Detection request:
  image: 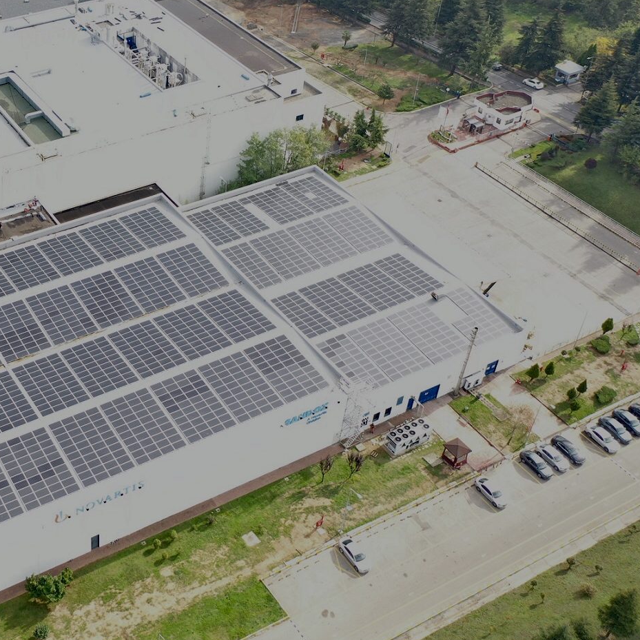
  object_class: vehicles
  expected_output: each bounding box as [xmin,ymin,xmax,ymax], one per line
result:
[549,436,586,466]
[337,540,373,576]
[518,450,554,481]
[613,407,640,436]
[473,478,509,510]
[534,444,570,474]
[583,425,619,454]
[598,416,634,444]
[627,400,640,417]
[522,78,544,90]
